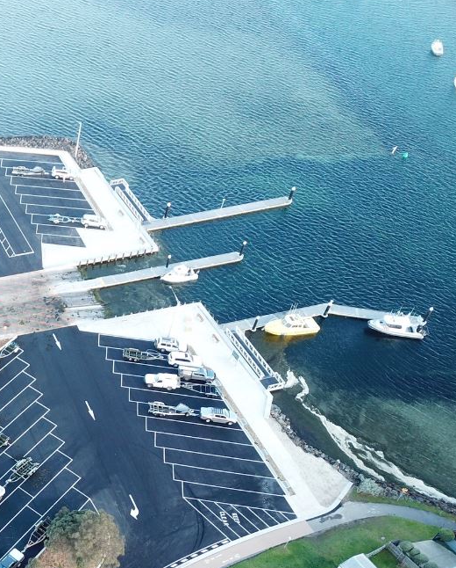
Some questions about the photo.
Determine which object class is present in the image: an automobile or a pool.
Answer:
automobile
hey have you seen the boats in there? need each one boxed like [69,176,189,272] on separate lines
[266,308,322,335]
[161,262,199,285]
[368,313,428,339]
[431,39,443,58]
